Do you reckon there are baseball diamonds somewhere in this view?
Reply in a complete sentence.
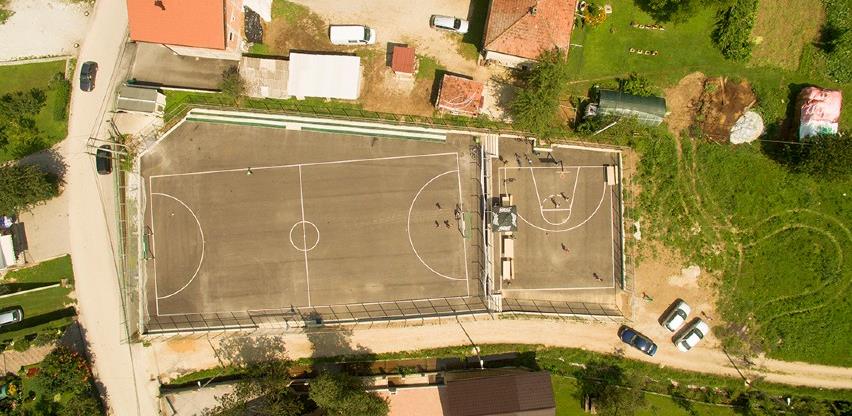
No, there appears to be no baseball diamond in this shot.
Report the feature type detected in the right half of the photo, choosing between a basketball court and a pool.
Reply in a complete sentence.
The one visible in the right half of the photo is a basketball court.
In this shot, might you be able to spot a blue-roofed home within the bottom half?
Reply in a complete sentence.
No, no blue-roofed home can be made out within the bottom half.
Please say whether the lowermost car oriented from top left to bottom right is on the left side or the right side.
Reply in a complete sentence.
The lowermost car oriented from top left to bottom right appears in the right half of the scene.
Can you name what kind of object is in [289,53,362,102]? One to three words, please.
shed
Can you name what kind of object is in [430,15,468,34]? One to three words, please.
car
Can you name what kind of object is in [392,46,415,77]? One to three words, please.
shed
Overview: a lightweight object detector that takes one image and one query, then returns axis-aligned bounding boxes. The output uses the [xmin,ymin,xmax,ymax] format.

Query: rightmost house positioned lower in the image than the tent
[444,366,555,416]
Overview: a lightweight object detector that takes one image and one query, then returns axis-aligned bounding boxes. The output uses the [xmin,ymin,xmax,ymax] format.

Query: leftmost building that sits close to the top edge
[127,0,246,60]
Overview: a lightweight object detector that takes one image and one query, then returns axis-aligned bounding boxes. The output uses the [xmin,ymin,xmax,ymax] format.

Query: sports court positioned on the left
[140,117,488,332]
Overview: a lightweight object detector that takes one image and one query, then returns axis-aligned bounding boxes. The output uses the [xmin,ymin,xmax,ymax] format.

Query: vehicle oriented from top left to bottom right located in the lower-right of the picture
[619,326,656,355]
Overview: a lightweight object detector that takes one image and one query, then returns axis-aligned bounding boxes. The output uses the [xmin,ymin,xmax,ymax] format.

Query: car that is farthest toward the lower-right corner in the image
[675,319,708,354]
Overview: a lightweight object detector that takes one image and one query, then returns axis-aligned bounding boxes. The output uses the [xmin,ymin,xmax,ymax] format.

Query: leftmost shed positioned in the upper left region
[116,87,166,111]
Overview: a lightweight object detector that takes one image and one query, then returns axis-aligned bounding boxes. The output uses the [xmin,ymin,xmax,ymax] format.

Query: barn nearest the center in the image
[438,74,483,116]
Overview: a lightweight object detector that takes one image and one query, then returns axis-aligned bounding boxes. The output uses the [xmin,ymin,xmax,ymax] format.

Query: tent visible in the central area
[490,206,516,231]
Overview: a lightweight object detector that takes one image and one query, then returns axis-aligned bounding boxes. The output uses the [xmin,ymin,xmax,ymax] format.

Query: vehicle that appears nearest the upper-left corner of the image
[79,62,98,92]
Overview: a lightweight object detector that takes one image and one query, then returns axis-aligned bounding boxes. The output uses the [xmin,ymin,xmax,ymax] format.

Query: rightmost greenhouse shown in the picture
[599,87,670,126]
